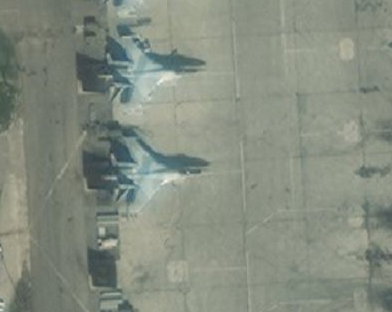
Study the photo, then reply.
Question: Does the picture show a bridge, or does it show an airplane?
airplane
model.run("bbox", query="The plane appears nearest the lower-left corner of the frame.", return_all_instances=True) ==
[103,138,211,215]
